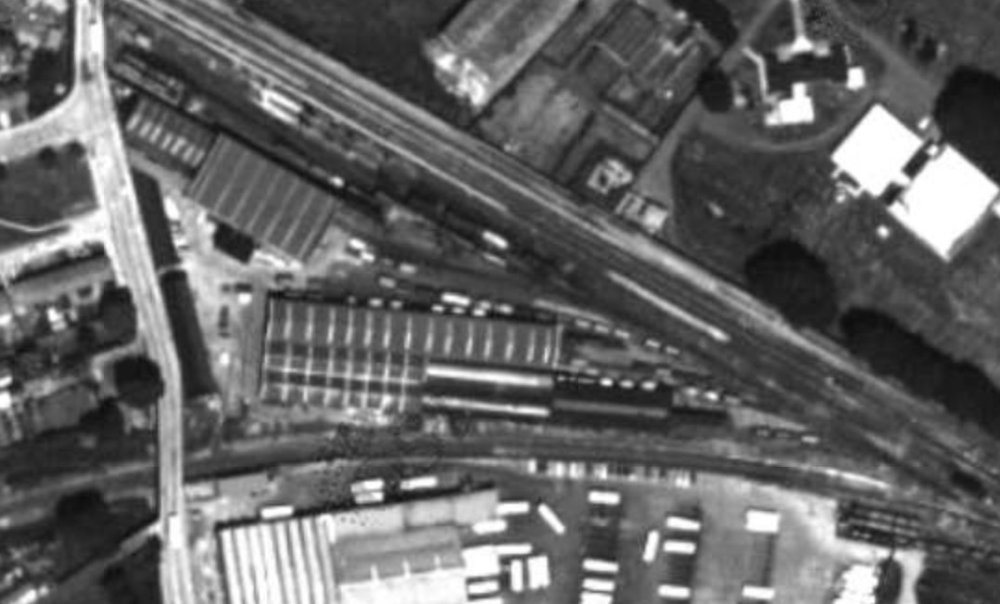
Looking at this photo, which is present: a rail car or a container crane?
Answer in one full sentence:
Of the two, only a rail car appears.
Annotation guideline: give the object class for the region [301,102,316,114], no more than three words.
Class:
rail car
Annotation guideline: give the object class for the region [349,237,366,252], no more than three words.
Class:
vehicle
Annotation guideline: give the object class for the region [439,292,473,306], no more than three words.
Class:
rail car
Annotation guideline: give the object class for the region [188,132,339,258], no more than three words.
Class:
shed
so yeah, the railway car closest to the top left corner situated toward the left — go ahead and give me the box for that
[254,75,270,88]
